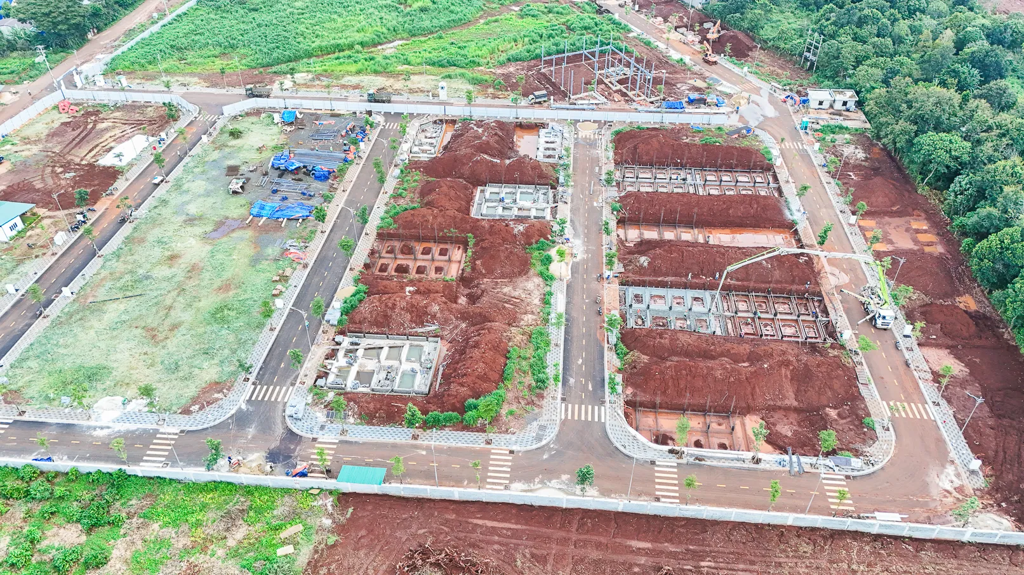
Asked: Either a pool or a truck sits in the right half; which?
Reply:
truck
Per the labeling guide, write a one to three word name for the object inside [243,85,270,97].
vehicle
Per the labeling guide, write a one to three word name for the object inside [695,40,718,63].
work vehicle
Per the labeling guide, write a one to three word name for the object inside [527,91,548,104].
vehicle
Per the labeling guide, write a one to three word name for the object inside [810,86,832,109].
shed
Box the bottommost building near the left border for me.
[0,197,42,241]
